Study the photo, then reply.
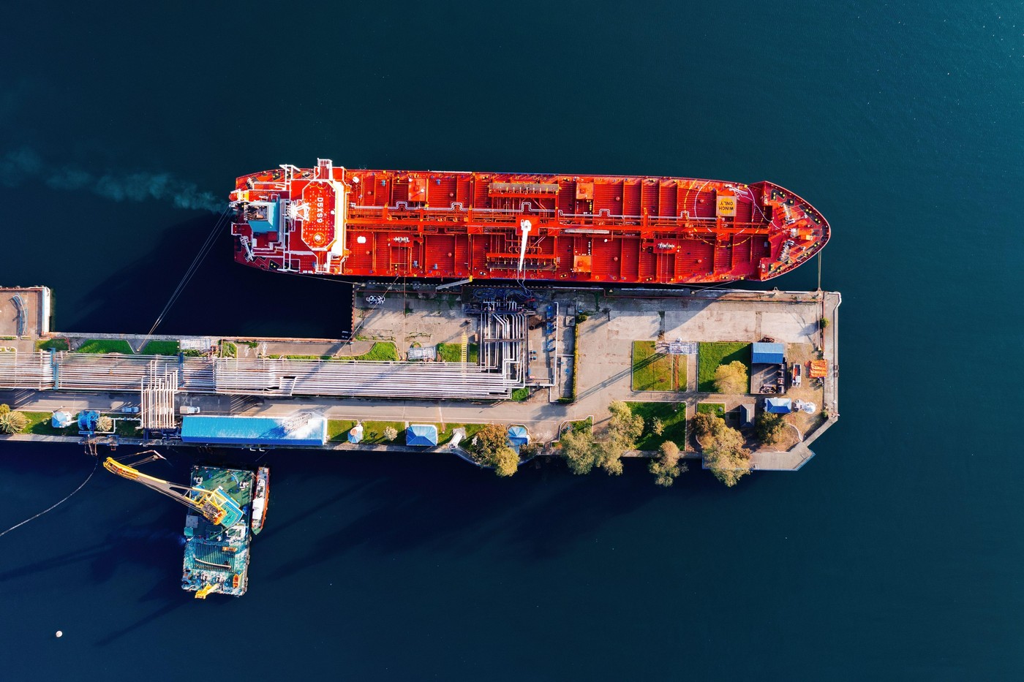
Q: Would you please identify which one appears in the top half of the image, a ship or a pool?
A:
ship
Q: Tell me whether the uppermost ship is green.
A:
No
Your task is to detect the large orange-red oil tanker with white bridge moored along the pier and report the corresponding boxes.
[229,159,831,292]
